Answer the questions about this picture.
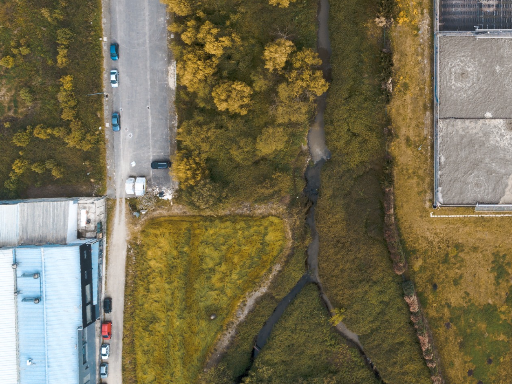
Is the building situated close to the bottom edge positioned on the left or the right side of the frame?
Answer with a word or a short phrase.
left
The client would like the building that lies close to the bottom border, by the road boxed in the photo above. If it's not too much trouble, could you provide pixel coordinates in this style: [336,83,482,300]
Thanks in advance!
[0,239,99,384]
